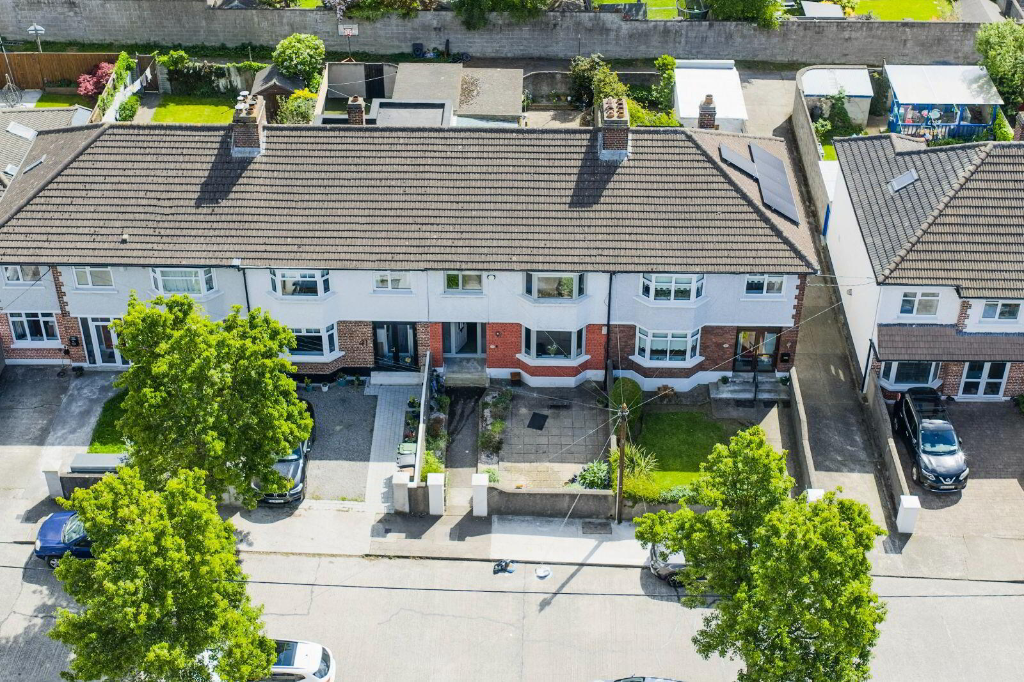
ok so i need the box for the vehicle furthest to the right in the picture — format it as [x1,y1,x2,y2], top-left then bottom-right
[892,390,971,493]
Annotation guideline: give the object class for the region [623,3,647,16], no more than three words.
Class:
shed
